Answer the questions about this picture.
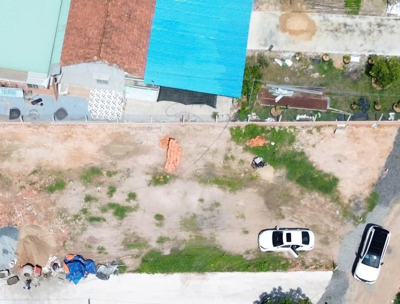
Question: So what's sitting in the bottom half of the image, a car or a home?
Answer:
car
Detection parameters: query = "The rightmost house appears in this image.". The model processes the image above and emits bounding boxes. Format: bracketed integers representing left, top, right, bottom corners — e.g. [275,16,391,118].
[142,0,252,105]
